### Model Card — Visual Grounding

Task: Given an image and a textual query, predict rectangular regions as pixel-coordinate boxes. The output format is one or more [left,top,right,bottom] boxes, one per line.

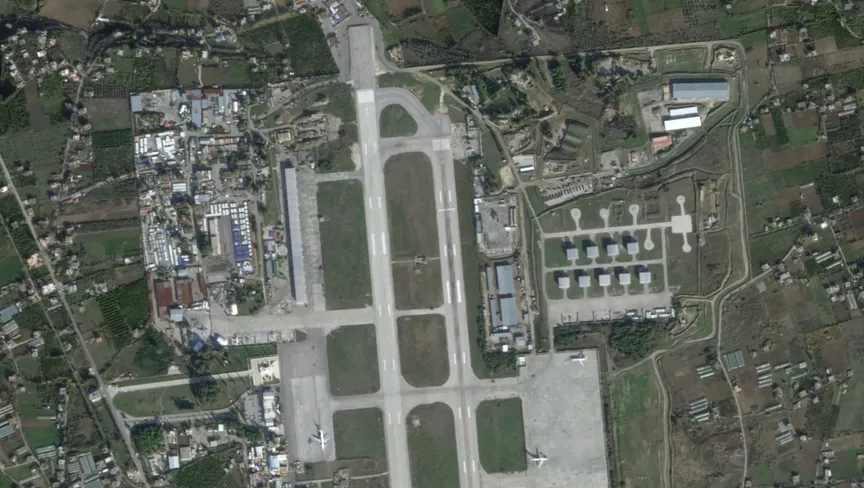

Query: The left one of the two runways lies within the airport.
[354,89,411,488]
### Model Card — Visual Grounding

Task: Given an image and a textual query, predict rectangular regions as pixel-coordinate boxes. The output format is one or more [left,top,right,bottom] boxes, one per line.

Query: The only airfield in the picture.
[205,26,692,488]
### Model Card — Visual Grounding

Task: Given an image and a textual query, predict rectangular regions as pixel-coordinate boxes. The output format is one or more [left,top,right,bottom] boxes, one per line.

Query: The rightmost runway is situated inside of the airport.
[430,138,482,488]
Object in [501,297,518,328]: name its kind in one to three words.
hangar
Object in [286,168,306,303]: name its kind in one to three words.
hangar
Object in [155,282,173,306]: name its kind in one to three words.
building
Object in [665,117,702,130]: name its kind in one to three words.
building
